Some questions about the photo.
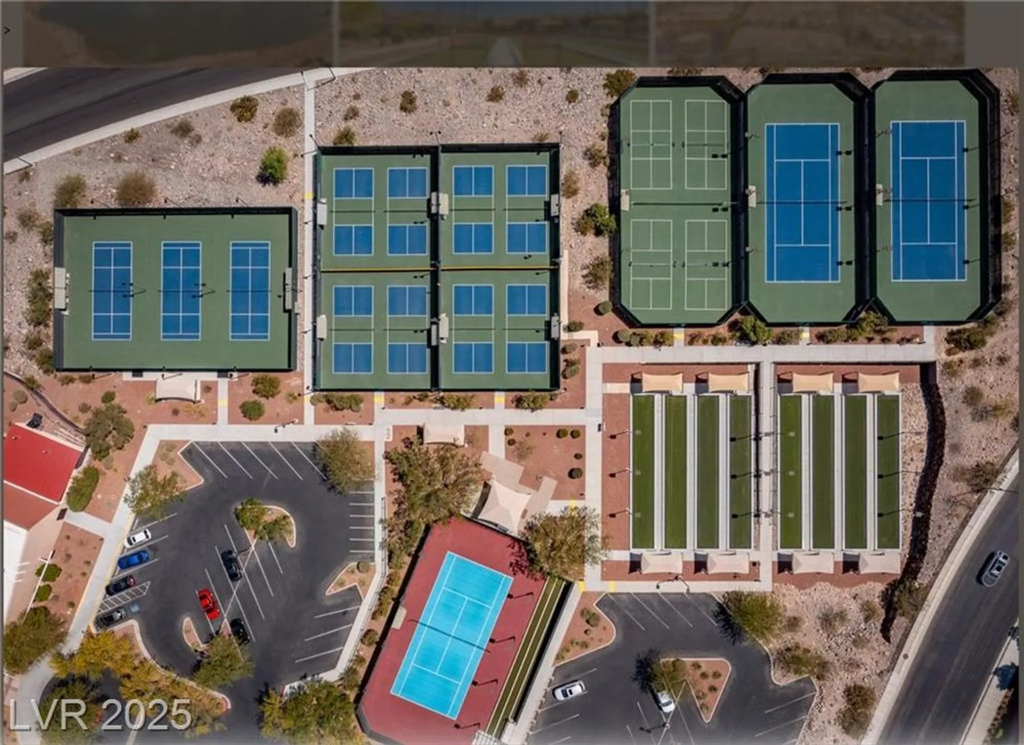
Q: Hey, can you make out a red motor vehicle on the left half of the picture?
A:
Yes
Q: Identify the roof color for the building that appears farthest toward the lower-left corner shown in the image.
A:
red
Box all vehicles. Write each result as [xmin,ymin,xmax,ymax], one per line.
[104,574,138,596]
[221,548,243,581]
[123,527,155,549]
[553,680,586,702]
[980,550,1009,586]
[199,588,220,620]
[231,616,252,645]
[95,607,129,630]
[654,685,677,717]
[118,548,152,570]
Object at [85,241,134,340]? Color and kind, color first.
blue tennis court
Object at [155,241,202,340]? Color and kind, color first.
blue tennis court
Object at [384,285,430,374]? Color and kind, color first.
blue sports court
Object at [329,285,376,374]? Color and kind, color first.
blue sports court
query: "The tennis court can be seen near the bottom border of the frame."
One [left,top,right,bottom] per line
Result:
[361,517,573,745]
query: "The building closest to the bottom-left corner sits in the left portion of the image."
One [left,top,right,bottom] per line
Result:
[0,421,91,639]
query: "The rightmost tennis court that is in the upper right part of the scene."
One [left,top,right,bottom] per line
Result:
[873,77,989,326]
